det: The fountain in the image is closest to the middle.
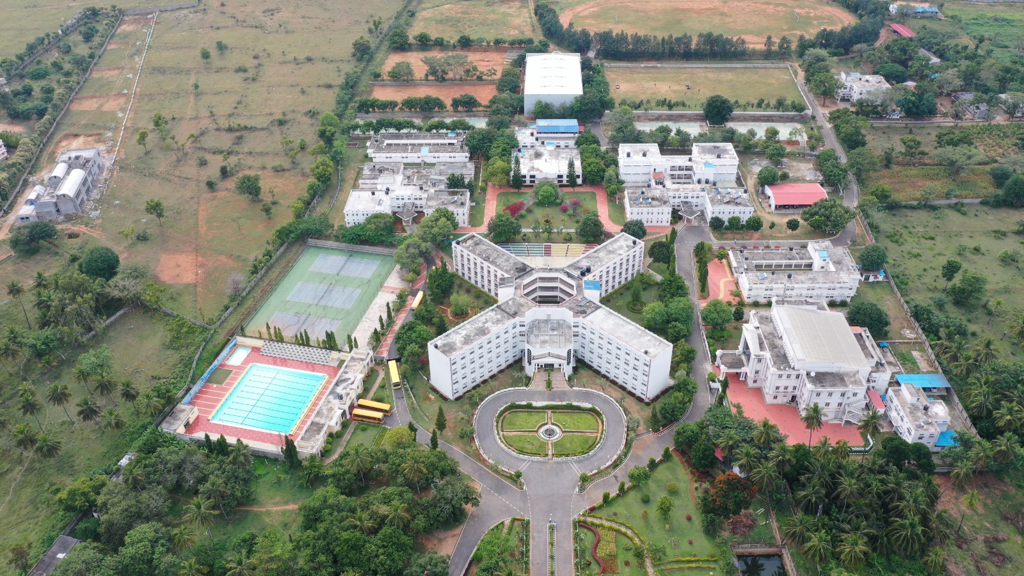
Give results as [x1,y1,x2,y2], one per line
[539,423,562,440]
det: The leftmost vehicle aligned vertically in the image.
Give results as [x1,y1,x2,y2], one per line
[388,363,402,392]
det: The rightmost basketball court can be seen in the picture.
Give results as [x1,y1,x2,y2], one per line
[727,123,807,139]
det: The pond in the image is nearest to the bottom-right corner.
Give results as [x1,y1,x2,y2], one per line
[730,542,799,576]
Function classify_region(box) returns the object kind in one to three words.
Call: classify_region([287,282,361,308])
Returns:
tennis court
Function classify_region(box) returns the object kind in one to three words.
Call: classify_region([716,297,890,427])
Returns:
building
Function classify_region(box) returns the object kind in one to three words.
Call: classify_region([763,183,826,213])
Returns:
shed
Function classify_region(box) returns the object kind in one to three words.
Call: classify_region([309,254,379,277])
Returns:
tennis court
